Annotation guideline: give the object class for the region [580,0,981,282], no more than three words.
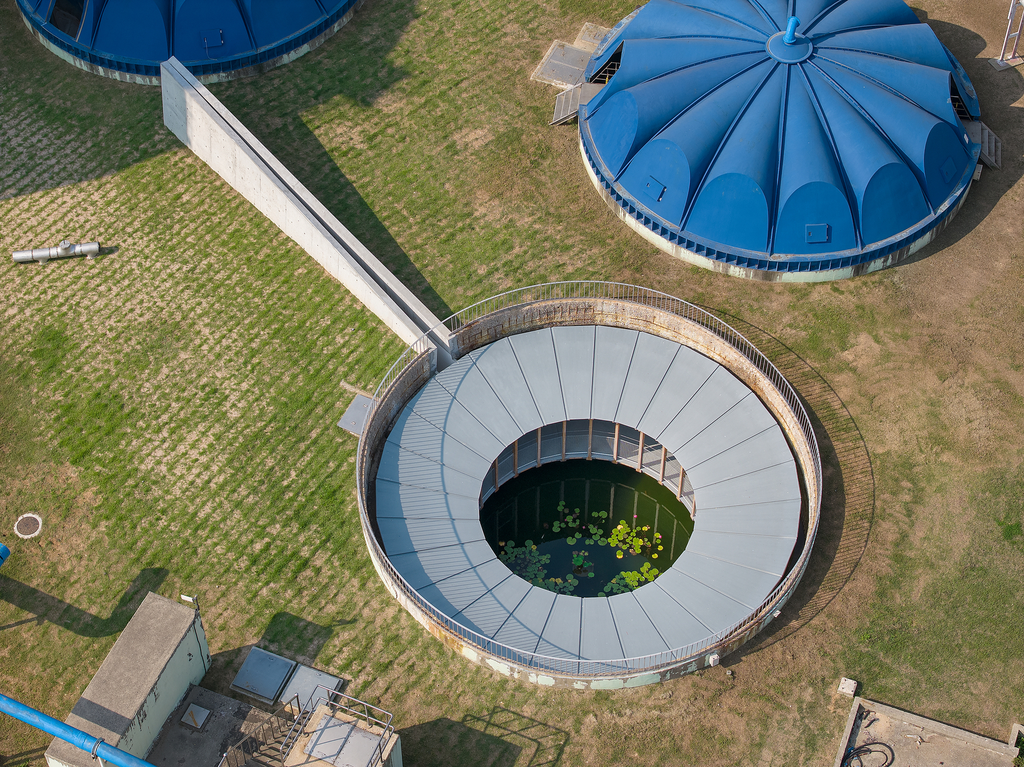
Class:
storage tank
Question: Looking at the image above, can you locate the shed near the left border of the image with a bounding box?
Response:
[44,592,207,767]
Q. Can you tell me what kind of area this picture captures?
industrial area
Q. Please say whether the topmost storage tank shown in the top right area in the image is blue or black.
blue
